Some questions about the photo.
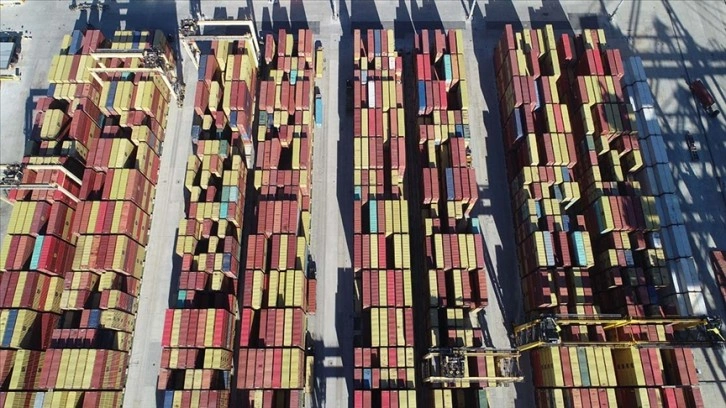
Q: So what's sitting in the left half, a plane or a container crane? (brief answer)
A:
container crane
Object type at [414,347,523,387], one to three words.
container crane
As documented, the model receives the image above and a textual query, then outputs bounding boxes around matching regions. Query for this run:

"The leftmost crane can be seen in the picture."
[0,162,83,205]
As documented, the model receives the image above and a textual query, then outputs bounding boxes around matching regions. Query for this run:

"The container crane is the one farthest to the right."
[603,314,726,351]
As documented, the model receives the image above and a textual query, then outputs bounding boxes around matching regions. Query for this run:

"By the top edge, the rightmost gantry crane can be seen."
[178,14,265,76]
